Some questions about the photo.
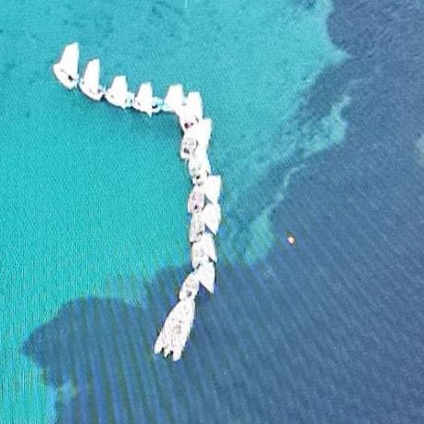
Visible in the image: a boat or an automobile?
boat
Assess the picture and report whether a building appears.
No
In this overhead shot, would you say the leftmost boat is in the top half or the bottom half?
top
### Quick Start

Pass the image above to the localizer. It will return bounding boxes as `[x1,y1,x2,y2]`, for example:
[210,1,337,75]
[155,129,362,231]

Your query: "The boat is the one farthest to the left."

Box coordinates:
[53,42,82,90]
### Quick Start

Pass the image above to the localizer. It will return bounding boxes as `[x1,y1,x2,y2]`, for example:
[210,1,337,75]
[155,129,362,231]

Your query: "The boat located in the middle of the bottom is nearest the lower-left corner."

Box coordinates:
[150,299,197,369]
